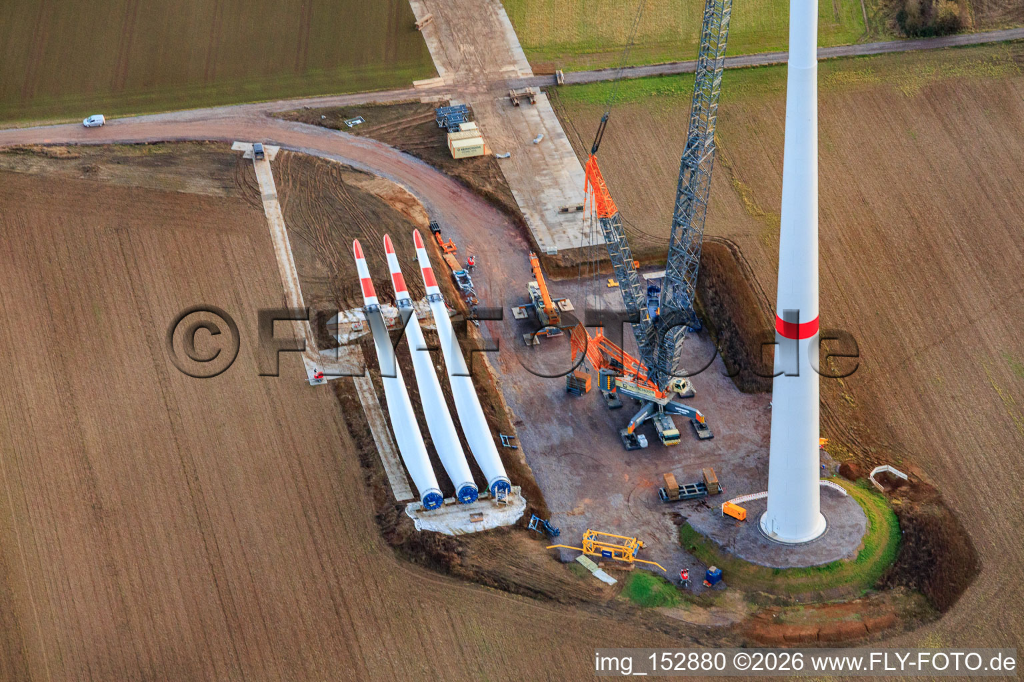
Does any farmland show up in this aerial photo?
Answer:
Yes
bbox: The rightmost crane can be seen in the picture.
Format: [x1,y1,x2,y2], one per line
[568,0,733,446]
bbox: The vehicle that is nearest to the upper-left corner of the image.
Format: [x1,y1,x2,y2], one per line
[82,114,106,128]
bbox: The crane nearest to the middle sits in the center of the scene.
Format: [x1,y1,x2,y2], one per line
[520,251,575,341]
